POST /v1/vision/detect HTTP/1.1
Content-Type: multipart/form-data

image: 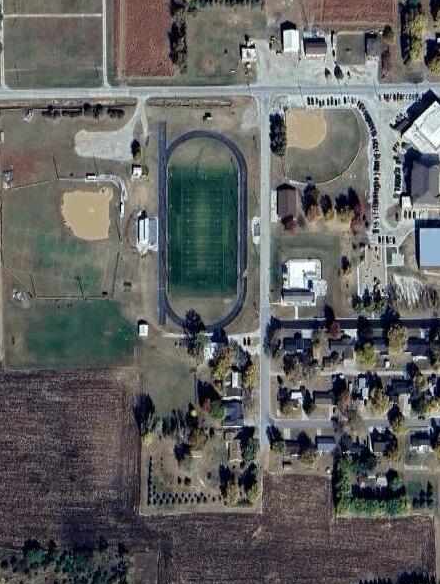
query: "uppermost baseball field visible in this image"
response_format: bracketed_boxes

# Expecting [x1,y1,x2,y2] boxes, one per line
[281,108,364,185]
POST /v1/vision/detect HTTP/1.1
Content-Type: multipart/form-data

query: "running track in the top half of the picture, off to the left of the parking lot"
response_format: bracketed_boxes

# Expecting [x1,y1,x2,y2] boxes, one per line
[159,121,248,331]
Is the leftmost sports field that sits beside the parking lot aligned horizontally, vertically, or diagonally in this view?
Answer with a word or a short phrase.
vertically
